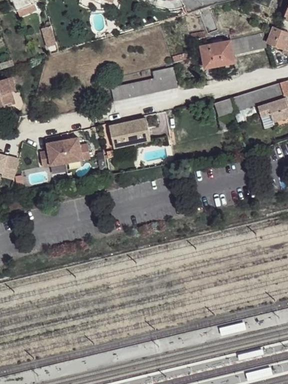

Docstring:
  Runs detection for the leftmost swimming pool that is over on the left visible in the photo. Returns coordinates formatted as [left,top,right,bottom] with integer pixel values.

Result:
[28,170,48,184]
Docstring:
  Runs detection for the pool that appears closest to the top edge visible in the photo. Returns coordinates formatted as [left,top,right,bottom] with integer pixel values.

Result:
[90,11,106,32]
